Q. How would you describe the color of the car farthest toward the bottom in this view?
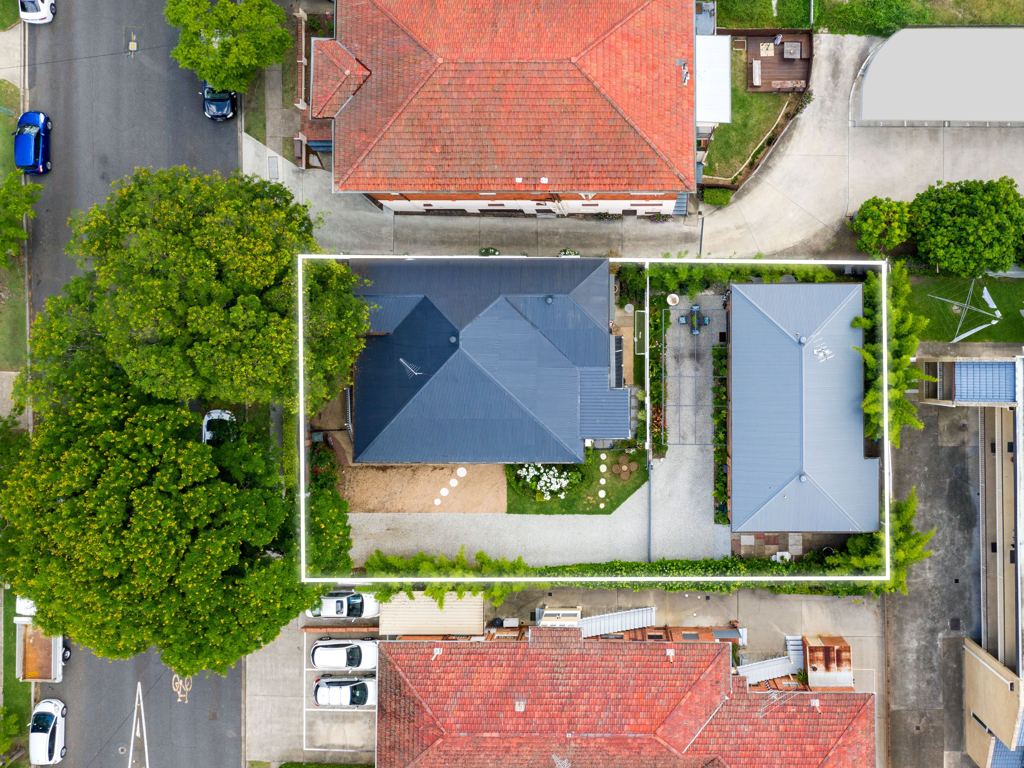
white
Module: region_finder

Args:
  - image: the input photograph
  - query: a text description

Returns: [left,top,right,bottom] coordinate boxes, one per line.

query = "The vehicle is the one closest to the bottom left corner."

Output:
[21,700,62,768]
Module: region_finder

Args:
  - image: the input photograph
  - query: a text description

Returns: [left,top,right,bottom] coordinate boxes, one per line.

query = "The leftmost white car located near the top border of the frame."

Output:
[14,0,52,23]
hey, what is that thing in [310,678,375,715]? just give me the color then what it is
white car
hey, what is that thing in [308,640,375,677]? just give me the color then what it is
white car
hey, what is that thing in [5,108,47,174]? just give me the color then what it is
blue car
